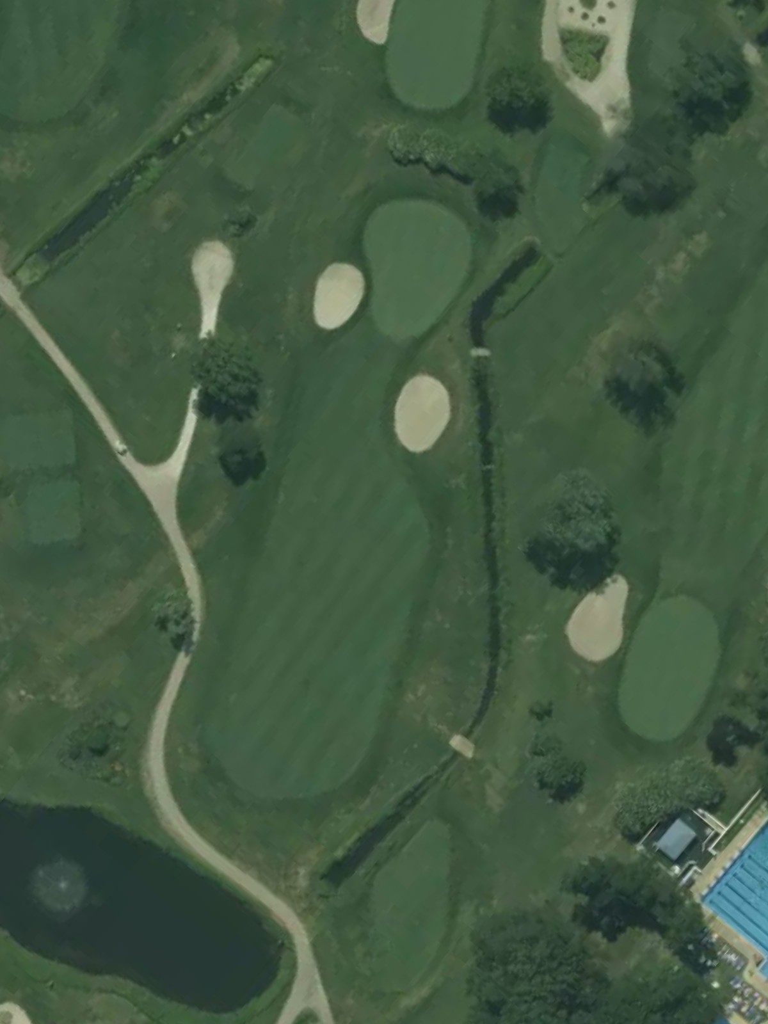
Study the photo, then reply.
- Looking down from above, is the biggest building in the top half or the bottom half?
bottom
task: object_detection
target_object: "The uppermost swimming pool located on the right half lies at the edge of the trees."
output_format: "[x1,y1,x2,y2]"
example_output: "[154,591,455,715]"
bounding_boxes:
[707,818,768,974]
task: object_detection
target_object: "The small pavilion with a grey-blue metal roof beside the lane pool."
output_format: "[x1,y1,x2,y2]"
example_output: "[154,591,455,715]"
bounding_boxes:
[658,820,696,861]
